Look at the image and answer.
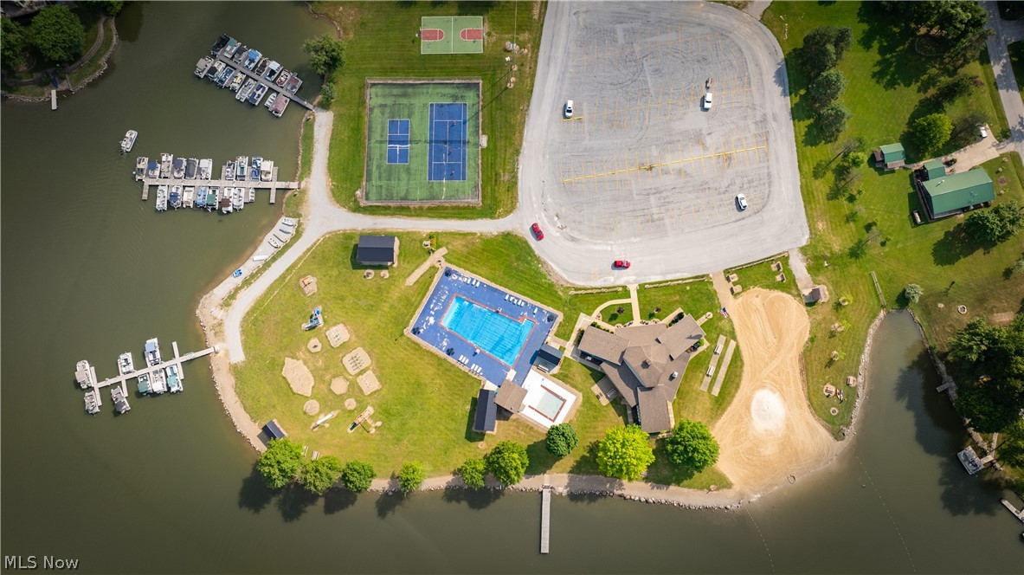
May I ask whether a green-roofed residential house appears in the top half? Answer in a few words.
Yes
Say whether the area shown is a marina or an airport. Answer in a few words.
marina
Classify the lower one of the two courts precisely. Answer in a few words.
tennis court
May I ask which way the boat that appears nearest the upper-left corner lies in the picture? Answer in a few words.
on a diagonal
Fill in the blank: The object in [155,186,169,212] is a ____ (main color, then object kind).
white boat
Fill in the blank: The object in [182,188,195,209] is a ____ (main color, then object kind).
white boat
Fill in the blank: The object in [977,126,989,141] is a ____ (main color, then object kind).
white vehicle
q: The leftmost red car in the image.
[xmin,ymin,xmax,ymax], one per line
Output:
[531,224,544,240]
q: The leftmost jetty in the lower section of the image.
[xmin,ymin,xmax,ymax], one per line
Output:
[89,342,214,405]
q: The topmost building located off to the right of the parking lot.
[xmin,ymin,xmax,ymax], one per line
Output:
[874,143,907,171]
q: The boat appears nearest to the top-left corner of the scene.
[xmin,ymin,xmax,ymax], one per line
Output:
[117,130,140,153]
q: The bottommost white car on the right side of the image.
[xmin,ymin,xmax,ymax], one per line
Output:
[736,193,748,210]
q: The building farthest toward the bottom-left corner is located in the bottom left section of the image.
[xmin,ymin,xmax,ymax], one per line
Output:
[262,420,288,443]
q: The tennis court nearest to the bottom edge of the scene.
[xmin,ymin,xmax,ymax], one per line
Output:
[361,75,488,205]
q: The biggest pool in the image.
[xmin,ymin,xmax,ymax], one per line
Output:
[407,262,563,391]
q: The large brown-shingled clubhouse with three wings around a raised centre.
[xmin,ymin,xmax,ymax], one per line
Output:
[578,314,705,431]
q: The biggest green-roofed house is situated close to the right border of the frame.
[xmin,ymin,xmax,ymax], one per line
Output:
[911,160,995,222]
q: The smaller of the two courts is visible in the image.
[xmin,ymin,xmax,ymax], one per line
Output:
[418,16,486,54]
